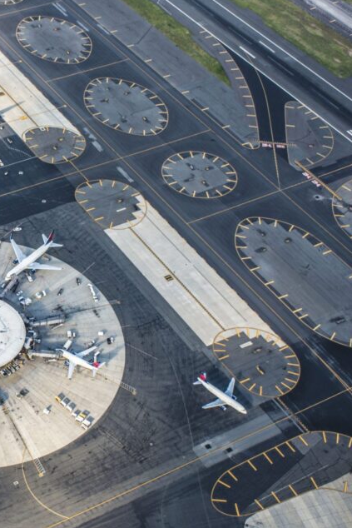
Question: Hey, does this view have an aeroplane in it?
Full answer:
Yes, this view includes an aeroplane.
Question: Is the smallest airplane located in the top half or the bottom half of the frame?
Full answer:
The bottom half of the photo is where the smallest airplane is.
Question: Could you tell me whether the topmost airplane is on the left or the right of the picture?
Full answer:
The topmost airplane sits on the left side.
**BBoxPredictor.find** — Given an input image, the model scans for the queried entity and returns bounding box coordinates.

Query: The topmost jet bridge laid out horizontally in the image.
[25,313,67,328]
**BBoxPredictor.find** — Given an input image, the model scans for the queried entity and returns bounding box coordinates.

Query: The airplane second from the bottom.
[60,347,105,380]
